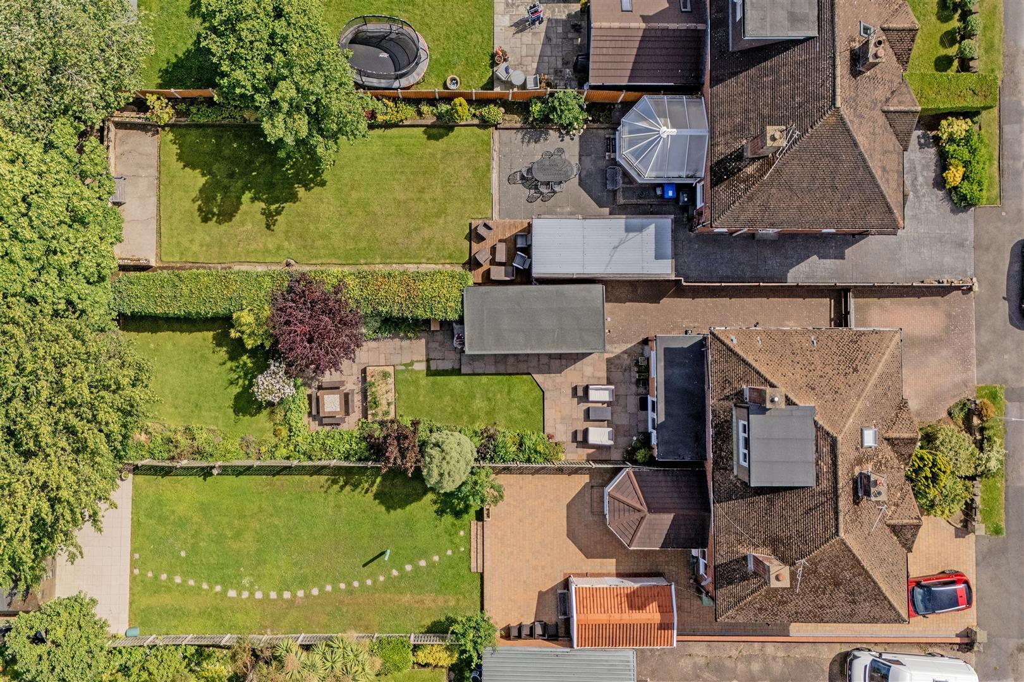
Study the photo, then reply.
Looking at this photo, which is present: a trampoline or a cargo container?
trampoline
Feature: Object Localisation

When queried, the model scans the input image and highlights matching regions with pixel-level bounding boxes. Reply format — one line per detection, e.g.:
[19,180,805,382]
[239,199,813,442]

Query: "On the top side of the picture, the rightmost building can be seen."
[692,0,922,249]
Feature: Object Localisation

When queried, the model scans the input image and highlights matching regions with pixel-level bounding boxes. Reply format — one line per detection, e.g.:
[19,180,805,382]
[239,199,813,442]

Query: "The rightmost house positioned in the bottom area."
[696,327,924,625]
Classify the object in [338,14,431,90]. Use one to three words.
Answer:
trampoline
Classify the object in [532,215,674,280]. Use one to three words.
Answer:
building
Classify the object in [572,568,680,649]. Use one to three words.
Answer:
building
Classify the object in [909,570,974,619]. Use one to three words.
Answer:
car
